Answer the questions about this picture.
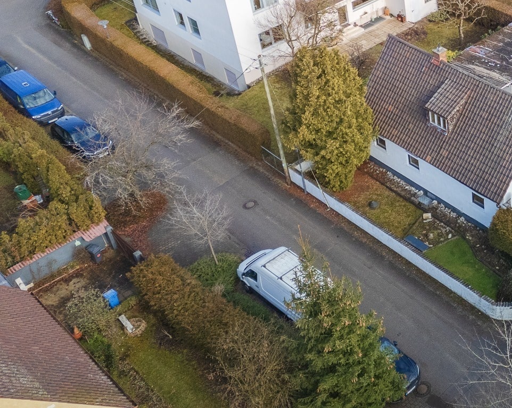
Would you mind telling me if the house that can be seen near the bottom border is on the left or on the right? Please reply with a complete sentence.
The house that can be seen near the bottom border sits on the left side.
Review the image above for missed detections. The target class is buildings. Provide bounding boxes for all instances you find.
[132,0,392,86]
[0,288,146,408]
[365,31,512,231]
